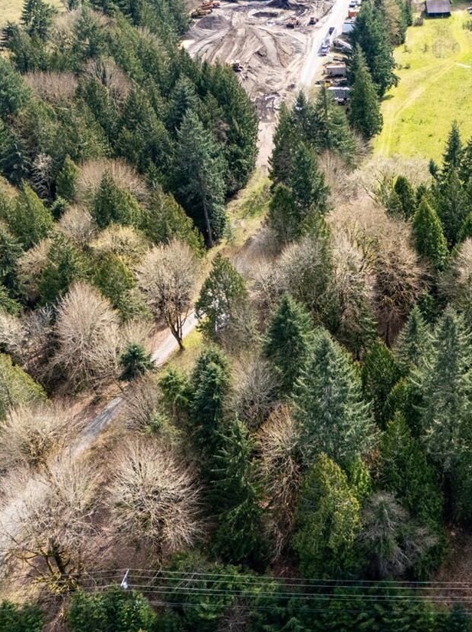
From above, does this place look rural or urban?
rural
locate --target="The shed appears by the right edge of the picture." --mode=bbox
[426,1,453,17]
